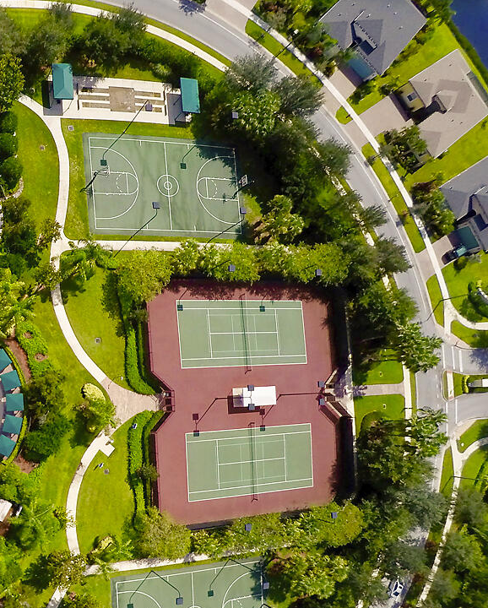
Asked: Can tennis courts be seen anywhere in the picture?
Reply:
Yes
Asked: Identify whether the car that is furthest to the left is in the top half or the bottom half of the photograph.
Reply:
bottom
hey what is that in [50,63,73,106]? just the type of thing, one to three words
building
